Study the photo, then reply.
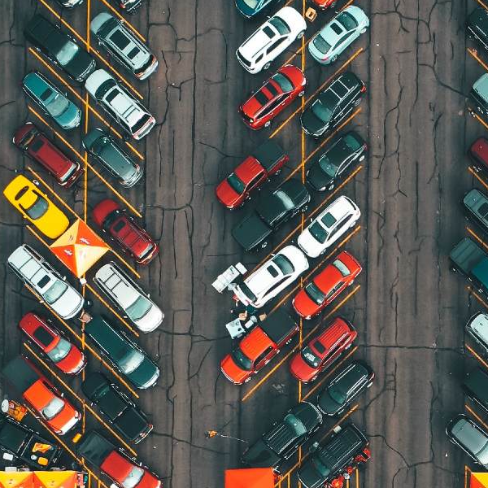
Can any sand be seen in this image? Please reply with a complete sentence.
No, sand can't be seen anywhere here.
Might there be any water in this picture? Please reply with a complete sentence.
No, the picture contains no water.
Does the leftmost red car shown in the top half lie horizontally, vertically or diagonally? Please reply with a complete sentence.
The leftmost red car shown in the top half is laid out diagonally.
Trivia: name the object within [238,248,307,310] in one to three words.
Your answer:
car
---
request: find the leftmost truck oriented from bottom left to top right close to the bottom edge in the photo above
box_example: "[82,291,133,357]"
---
[238,402,323,469]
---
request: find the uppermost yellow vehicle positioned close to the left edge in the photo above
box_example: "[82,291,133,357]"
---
[3,176,71,241]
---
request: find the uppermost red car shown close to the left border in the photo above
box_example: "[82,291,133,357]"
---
[16,126,83,190]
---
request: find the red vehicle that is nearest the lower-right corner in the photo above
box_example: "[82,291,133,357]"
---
[292,319,358,384]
